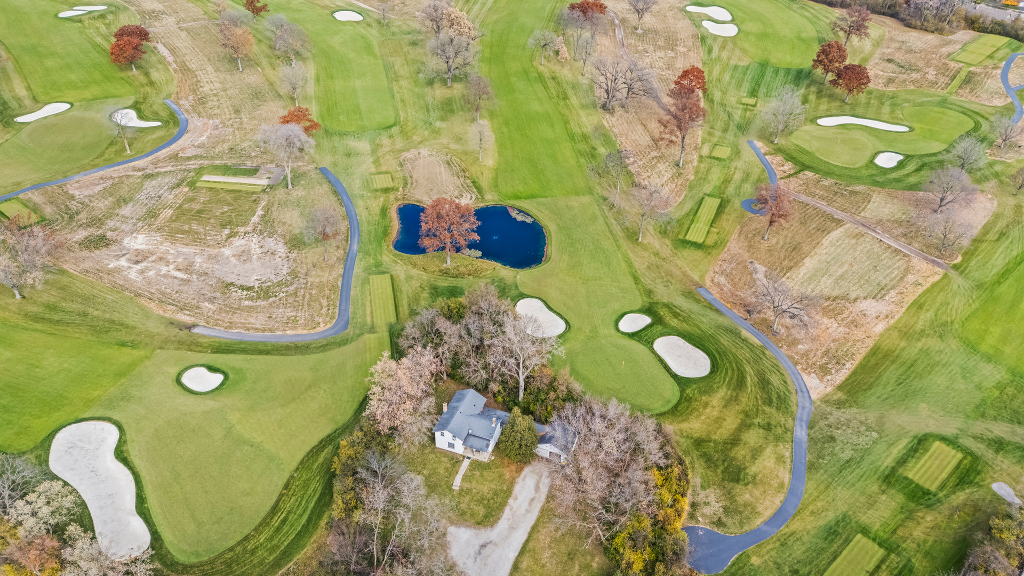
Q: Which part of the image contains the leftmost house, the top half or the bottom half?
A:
bottom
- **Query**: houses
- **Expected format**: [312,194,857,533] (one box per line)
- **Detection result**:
[432,390,545,463]
[960,4,1021,24]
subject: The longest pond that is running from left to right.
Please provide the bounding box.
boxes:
[392,203,547,270]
